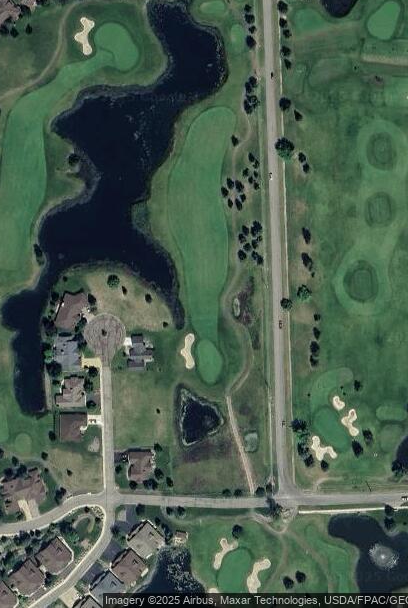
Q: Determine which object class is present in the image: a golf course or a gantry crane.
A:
golf course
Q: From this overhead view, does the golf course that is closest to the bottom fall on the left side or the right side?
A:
right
